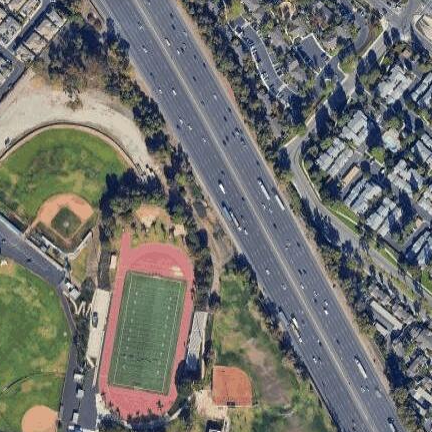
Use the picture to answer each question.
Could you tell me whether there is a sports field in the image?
Yes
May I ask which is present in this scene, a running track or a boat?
running track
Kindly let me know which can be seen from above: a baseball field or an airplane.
baseball field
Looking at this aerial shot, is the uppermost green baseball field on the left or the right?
left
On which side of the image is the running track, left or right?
left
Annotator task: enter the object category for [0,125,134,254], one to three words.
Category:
baseball field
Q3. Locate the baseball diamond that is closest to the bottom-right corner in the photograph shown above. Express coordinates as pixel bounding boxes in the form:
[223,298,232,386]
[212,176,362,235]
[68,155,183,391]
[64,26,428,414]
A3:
[212,366,252,406]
